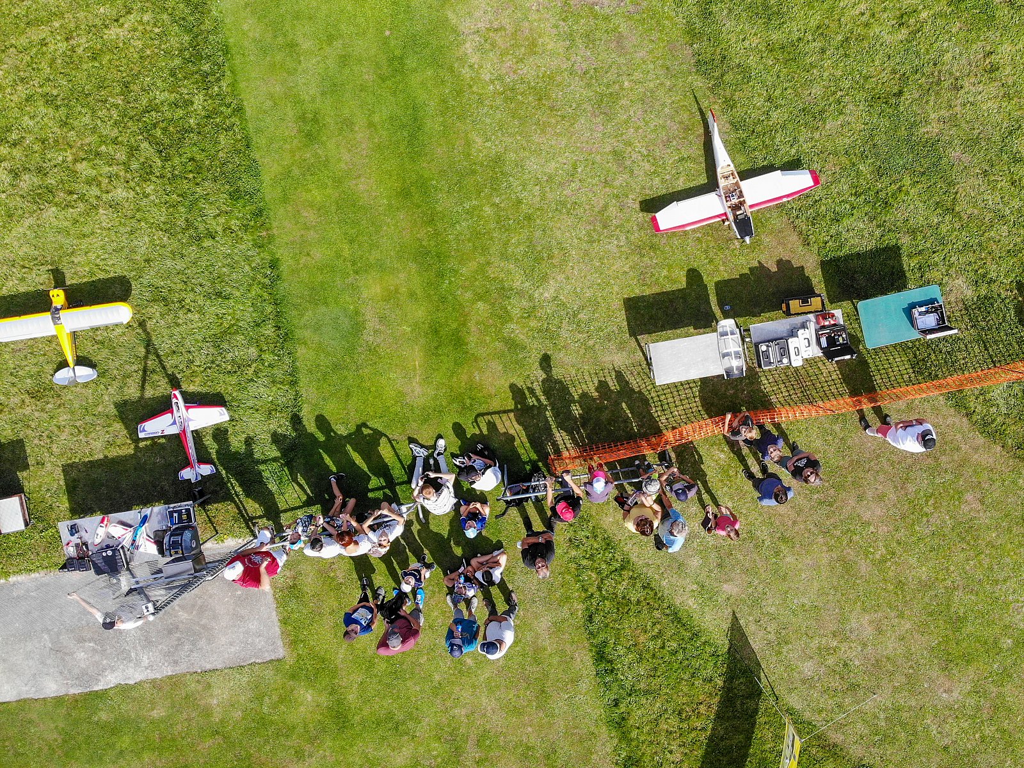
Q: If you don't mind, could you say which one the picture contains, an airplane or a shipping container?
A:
airplane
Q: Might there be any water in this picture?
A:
No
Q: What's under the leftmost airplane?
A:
grass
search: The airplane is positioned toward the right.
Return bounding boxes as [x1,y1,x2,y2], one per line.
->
[651,108,821,244]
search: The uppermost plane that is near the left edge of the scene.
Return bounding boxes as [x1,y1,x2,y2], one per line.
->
[0,287,134,387]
